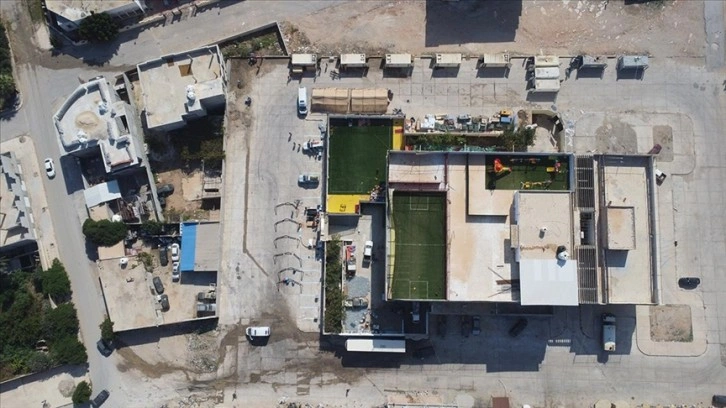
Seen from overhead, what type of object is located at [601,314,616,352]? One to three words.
vehicle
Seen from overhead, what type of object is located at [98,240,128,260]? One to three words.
shed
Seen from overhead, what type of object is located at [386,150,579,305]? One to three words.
building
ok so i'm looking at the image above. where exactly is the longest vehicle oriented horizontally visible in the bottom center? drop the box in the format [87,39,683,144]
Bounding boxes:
[345,338,406,353]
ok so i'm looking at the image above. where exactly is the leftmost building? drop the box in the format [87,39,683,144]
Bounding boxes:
[0,150,52,250]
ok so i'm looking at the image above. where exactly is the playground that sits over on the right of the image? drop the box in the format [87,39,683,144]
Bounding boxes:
[486,155,568,189]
